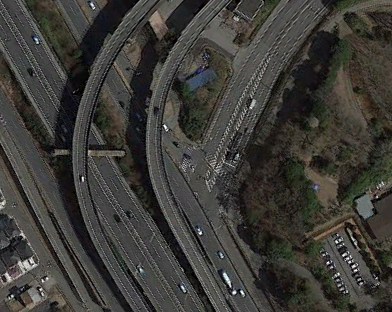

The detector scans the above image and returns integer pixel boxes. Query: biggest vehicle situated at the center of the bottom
[220,269,237,296]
